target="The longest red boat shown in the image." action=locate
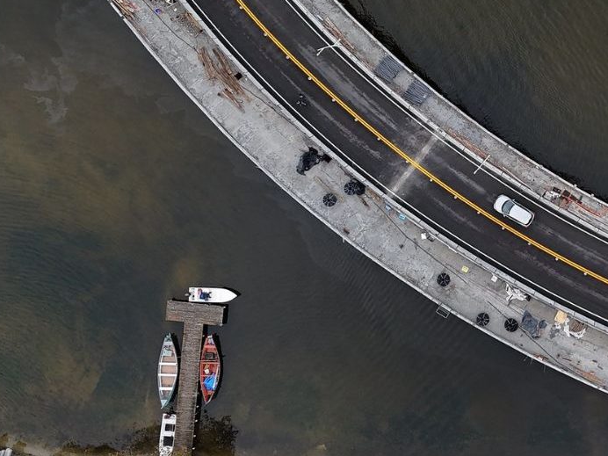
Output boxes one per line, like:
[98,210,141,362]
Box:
[199,332,219,406]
